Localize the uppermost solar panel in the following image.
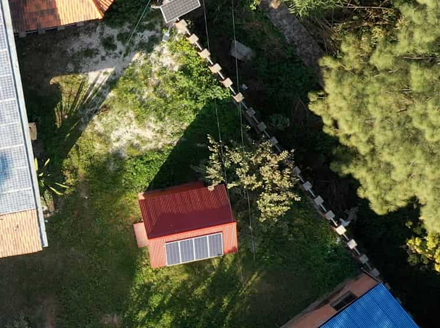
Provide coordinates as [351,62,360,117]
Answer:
[160,0,200,23]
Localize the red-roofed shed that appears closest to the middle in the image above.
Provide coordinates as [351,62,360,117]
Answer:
[131,176,237,268]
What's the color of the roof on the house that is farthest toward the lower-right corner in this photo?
blue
